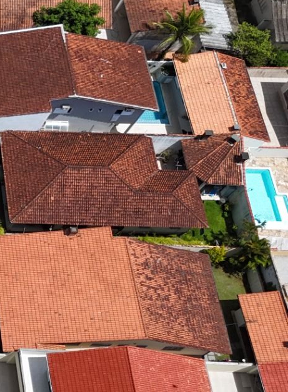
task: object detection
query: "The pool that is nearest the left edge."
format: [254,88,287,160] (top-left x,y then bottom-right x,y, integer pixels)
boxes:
[135,78,173,126]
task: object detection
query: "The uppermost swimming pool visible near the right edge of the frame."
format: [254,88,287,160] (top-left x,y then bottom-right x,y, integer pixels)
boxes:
[247,164,288,227]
